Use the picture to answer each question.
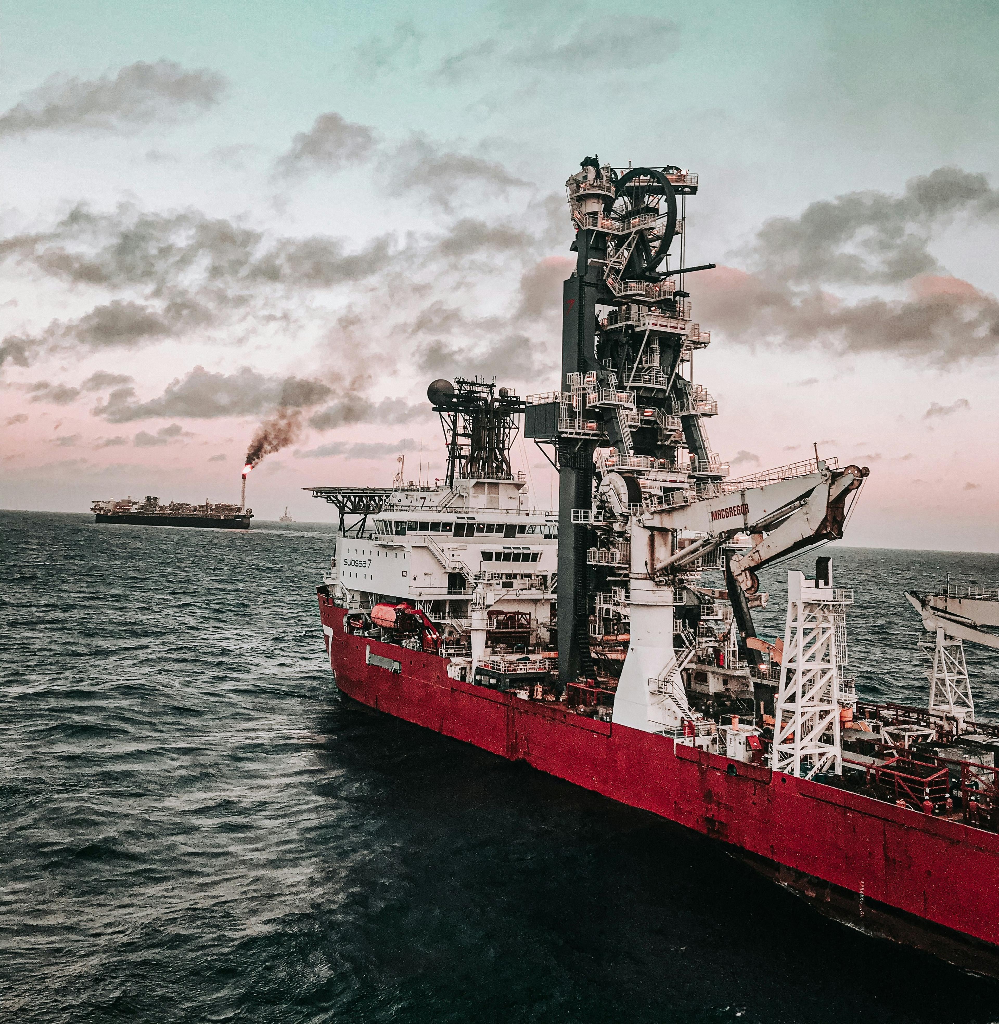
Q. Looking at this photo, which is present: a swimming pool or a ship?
ship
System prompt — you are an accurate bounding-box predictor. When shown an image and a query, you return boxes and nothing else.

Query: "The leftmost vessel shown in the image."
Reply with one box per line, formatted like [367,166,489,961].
[92,474,256,529]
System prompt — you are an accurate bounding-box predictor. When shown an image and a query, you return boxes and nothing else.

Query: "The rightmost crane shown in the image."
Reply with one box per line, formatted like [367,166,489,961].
[904,572,999,647]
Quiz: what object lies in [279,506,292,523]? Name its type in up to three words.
ship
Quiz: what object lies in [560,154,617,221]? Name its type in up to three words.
crane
